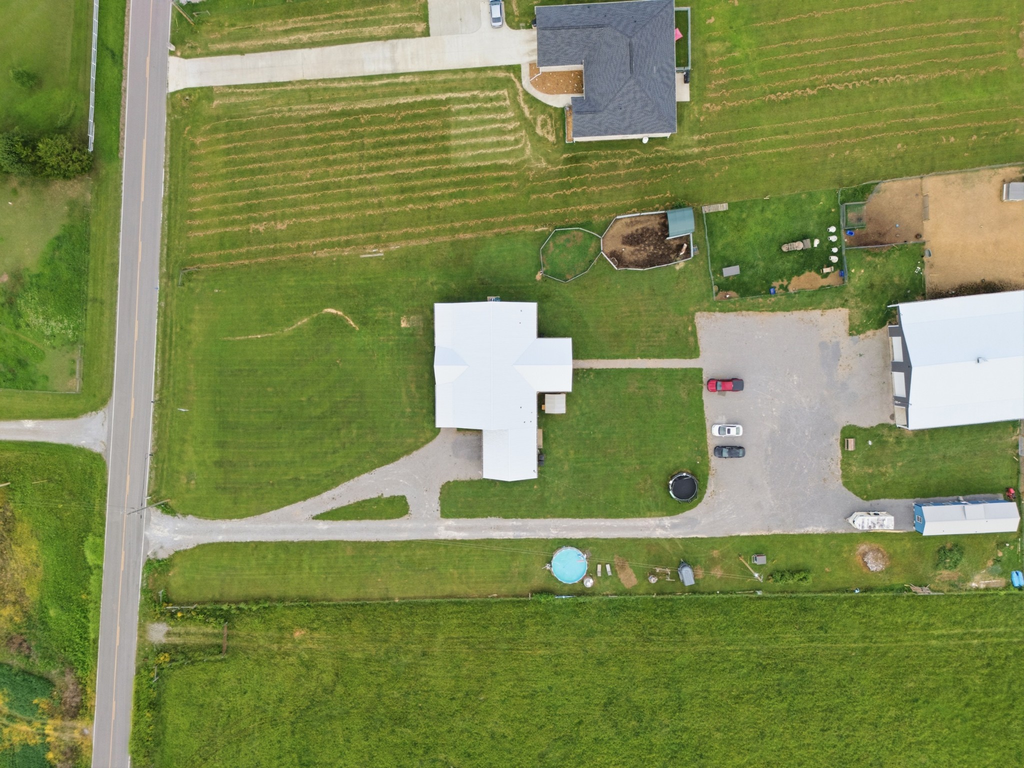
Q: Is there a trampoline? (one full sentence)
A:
Yes, a trampoline can be made out from above.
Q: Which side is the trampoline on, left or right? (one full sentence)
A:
You can find the trampoline on the right side of the picture.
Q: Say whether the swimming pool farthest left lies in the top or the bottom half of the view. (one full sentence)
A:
The swimming pool farthest left is in the bottom half of the image.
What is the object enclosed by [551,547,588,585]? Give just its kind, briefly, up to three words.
swimming pool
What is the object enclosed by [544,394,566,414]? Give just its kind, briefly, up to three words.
shed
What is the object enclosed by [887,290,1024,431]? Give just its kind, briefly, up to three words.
barn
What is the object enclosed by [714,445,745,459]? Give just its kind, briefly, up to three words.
car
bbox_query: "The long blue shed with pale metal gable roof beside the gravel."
[912,498,1021,535]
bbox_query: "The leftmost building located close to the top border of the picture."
[530,0,677,143]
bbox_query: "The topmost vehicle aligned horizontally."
[706,378,744,393]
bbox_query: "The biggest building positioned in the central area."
[434,302,573,480]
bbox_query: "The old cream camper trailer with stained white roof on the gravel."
[844,512,896,531]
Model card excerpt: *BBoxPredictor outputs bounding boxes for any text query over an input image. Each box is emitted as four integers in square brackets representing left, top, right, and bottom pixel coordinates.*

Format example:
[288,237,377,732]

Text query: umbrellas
[673,22,686,40]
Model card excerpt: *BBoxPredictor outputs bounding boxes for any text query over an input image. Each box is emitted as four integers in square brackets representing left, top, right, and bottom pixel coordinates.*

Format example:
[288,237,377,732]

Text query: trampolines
[670,474,702,504]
